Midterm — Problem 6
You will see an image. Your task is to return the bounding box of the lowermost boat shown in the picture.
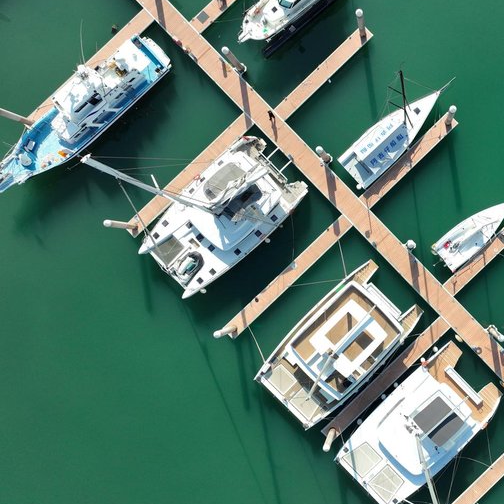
[337,344,503,504]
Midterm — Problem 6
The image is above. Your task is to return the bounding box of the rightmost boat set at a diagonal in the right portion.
[431,204,504,272]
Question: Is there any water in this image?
Yes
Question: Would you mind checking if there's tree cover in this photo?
No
